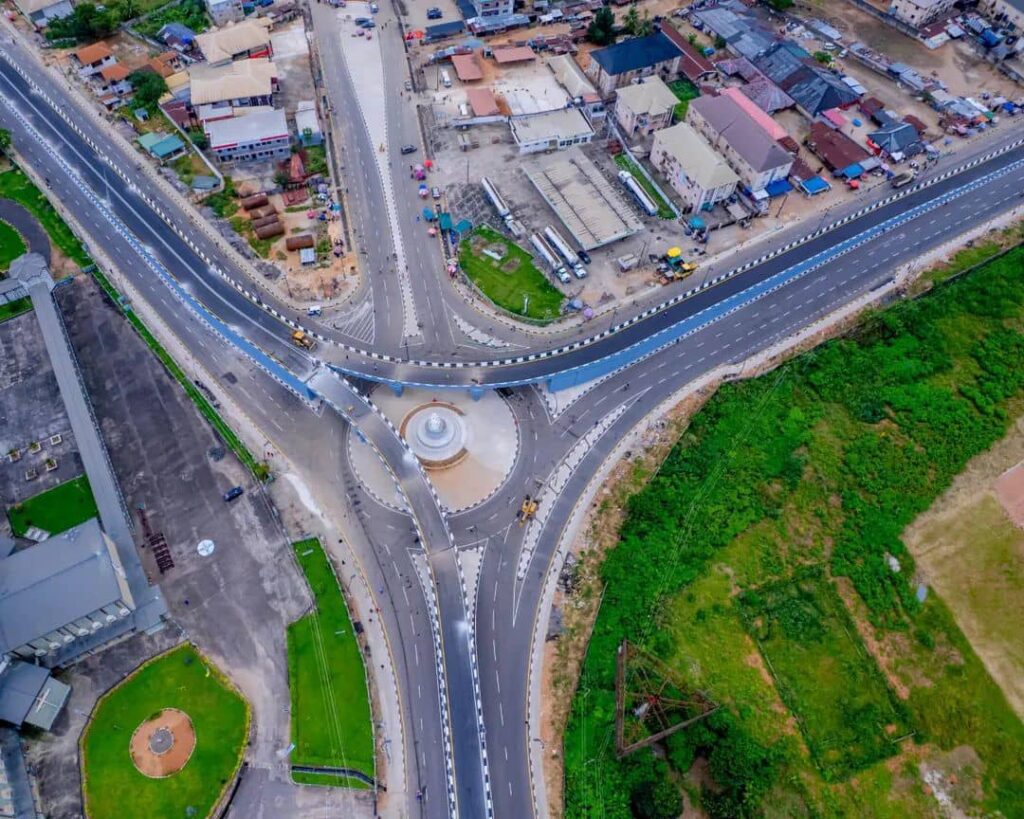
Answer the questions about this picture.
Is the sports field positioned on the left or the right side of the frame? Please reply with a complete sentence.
You can find the sports field on the right side of the picture.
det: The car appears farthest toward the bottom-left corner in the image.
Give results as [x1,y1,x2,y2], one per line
[220,485,245,501]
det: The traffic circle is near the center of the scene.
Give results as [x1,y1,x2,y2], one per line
[319,362,541,539]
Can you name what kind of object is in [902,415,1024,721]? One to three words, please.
sports field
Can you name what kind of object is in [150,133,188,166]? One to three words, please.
house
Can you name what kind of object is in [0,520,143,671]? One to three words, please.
church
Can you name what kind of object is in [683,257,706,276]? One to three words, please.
work vehicle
